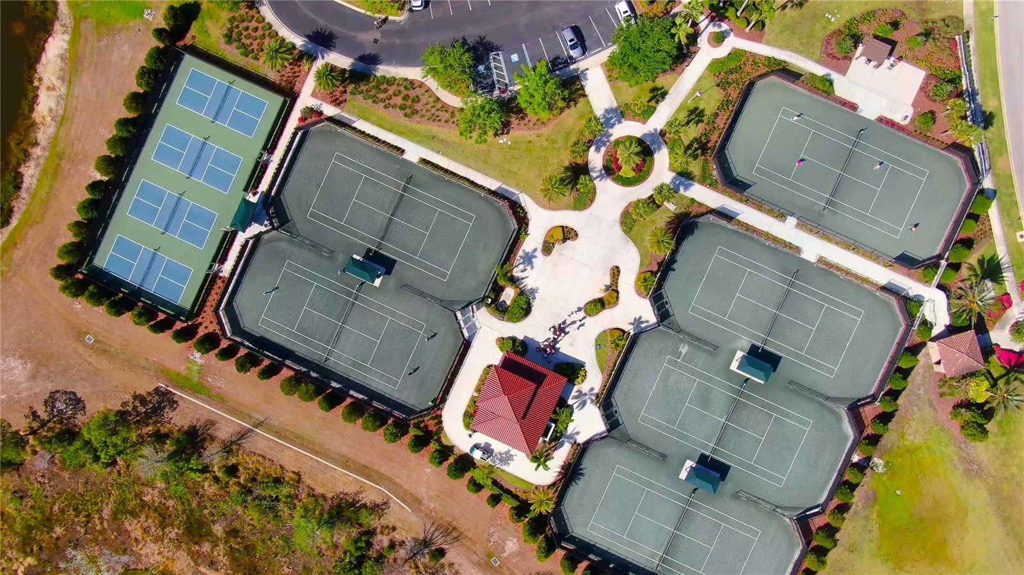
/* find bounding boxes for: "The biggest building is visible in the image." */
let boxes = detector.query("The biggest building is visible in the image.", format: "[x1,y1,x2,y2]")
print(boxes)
[470,351,567,455]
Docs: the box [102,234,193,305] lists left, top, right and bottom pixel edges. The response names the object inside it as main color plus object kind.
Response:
blue sports court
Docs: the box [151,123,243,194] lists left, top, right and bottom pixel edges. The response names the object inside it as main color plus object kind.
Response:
blue sports court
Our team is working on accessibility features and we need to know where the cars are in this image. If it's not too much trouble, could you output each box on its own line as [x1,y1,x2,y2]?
[410,0,424,11]
[615,0,638,23]
[563,23,585,56]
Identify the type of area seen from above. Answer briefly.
sports ground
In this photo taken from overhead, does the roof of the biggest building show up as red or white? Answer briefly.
red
